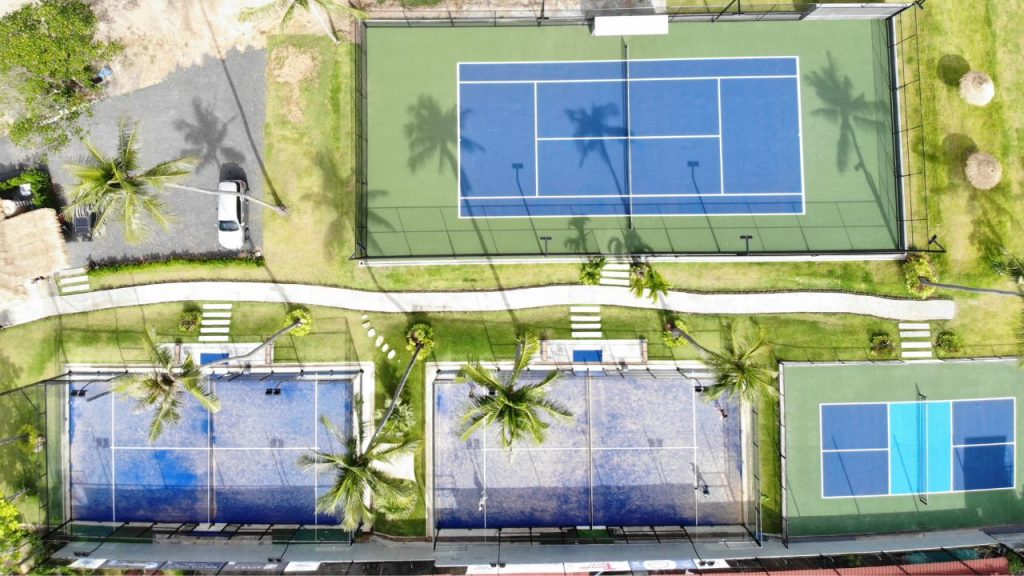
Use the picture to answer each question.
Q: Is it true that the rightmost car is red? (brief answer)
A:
No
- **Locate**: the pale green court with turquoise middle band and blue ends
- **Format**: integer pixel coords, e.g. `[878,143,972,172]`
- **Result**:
[782,357,1024,538]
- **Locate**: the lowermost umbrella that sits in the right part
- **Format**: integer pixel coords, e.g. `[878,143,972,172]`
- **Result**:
[965,152,1003,190]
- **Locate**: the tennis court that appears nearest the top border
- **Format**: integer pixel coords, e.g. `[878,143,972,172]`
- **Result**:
[365,17,899,256]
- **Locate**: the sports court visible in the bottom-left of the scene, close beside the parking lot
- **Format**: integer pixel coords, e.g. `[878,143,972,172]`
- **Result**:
[61,362,375,531]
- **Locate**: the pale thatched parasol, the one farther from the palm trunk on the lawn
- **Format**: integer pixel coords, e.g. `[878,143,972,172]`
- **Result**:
[957,70,995,107]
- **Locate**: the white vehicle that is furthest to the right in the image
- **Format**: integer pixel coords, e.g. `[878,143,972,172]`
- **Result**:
[215,181,251,250]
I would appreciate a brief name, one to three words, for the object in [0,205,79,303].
shed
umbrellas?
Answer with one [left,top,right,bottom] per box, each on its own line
[965,152,1003,190]
[957,70,995,107]
[0,197,26,217]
